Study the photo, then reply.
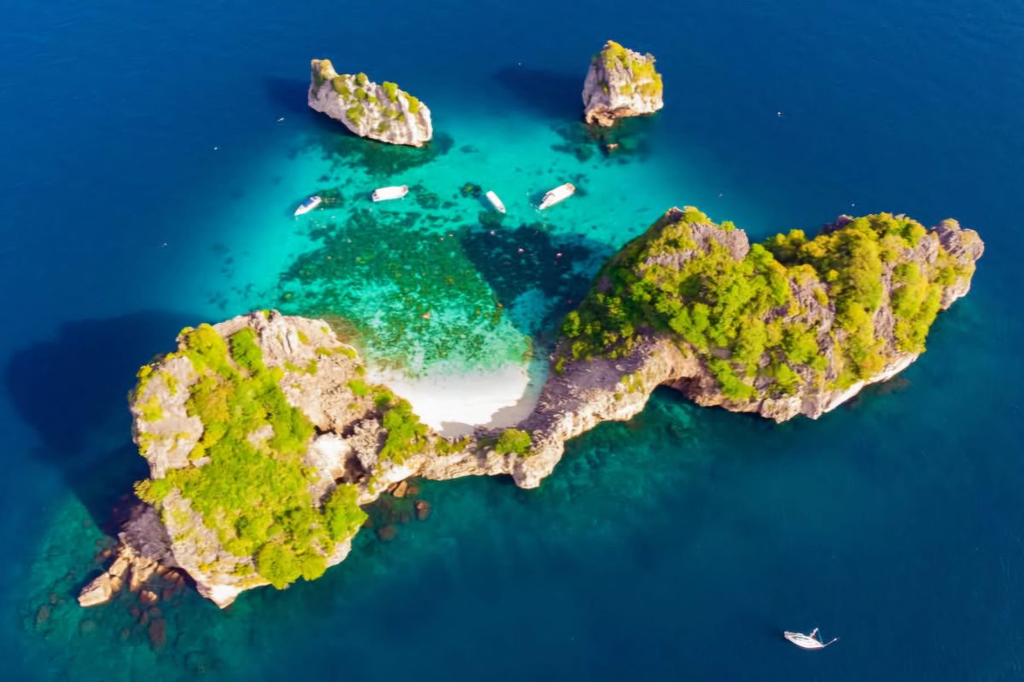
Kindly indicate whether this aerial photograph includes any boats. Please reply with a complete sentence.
Yes, the picture does show a boat.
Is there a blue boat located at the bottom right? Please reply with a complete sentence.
No, no blue boat can be made out at the bottom right.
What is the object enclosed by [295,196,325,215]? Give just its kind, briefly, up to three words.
boat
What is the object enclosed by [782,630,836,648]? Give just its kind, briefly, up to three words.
boat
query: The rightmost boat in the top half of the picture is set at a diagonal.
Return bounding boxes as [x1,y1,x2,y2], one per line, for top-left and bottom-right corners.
[534,183,574,212]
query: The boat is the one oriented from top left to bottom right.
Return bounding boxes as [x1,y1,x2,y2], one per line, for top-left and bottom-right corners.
[485,188,505,213]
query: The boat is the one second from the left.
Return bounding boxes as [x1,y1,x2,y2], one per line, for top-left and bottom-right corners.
[371,184,408,202]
